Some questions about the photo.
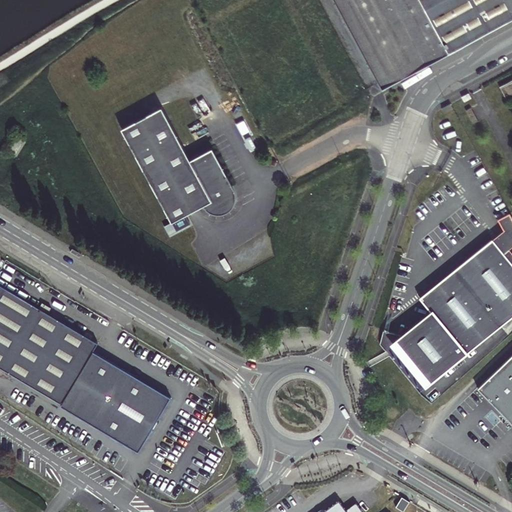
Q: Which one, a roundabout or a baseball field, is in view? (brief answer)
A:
roundabout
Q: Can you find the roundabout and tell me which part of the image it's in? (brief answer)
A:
bottom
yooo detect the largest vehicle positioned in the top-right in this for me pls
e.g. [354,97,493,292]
[403,68,431,88]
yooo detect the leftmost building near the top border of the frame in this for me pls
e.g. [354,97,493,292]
[335,0,448,90]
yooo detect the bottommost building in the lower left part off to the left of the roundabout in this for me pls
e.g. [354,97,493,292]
[61,354,170,452]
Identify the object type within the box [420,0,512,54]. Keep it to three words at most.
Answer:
building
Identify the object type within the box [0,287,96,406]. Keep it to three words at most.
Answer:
building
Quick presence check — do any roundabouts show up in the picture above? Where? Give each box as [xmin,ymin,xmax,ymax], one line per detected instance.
[248,353,355,464]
